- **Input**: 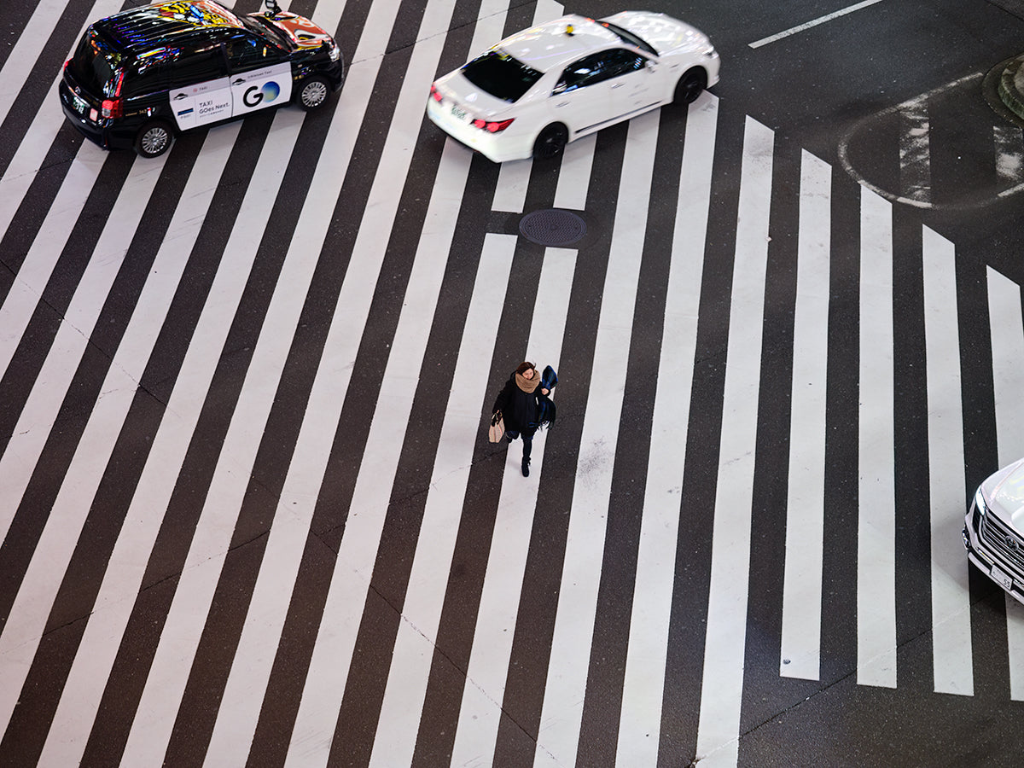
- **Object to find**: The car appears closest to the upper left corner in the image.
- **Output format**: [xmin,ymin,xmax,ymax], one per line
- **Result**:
[58,0,350,157]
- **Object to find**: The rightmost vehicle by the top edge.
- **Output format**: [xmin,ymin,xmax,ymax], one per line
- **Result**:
[431,8,722,160]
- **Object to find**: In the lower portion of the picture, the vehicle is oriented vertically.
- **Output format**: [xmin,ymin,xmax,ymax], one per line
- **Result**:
[963,461,1024,607]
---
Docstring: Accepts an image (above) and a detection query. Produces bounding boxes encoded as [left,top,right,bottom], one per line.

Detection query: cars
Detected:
[431,8,722,160]
[58,0,350,157]
[963,461,1024,607]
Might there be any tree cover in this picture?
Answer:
No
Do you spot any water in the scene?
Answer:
No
